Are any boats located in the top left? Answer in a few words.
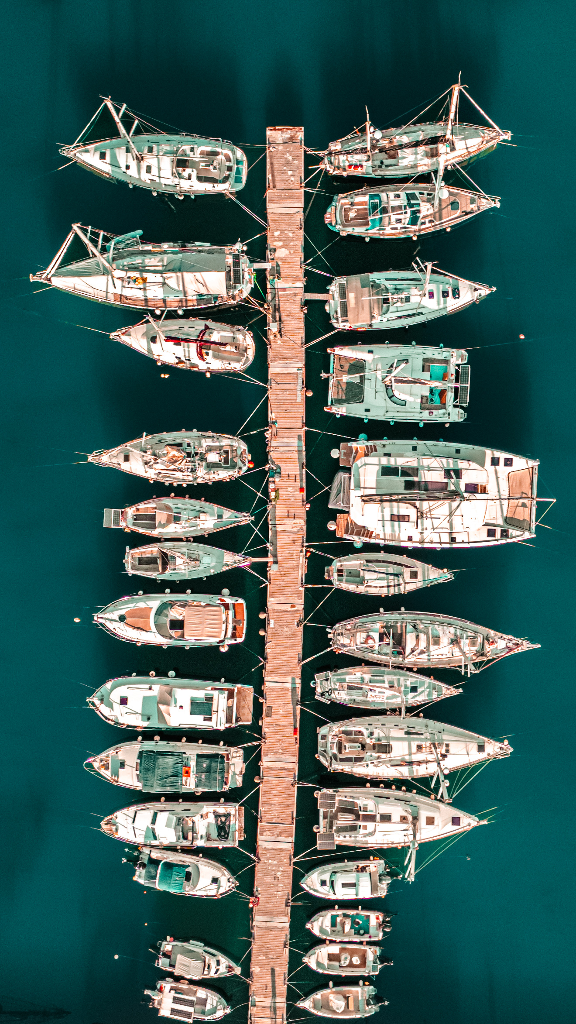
Yes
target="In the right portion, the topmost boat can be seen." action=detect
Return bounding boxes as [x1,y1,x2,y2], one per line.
[307,75,517,182]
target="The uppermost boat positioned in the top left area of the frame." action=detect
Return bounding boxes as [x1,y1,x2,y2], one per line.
[54,96,248,191]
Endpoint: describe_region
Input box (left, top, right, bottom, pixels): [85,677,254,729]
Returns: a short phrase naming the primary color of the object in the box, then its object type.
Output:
white boat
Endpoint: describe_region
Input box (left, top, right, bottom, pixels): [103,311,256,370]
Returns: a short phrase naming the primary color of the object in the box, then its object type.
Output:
white boat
